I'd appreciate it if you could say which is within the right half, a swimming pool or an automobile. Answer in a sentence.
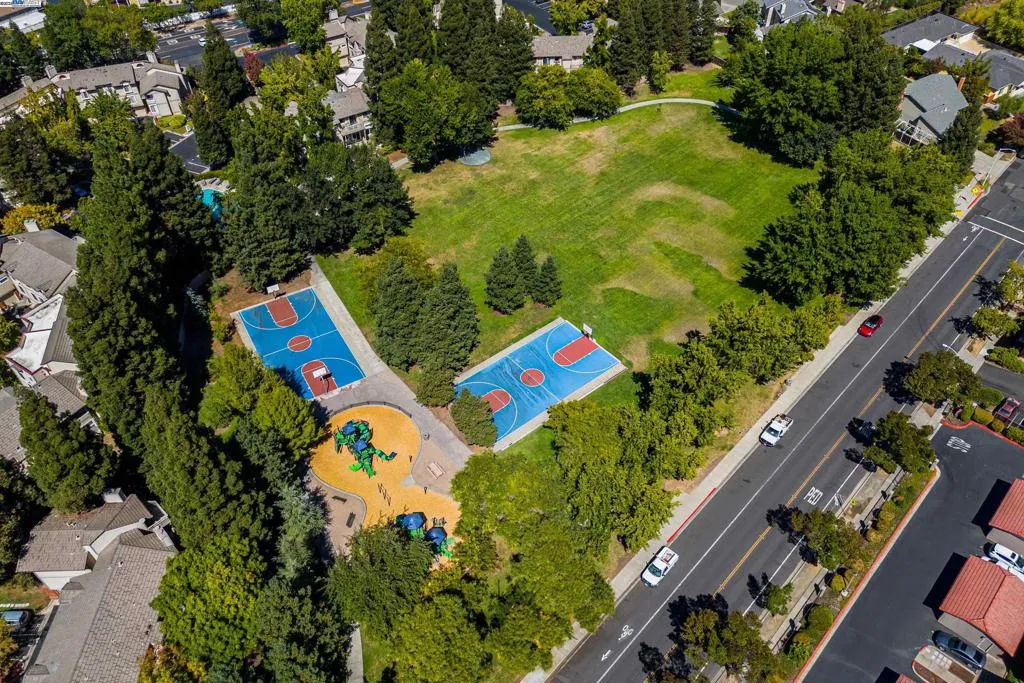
Looking within the right half, you will find an automobile.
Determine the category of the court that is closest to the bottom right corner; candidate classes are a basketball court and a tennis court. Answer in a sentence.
It looks like the court that is closest to the bottom right corner is a basketball court.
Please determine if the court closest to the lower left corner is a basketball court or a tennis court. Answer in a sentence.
It turns out the court closest to the lower left corner is a basketball court.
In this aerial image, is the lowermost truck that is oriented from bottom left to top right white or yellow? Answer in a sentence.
The color of the lowermost truck that is oriented from bottom left to top right is white.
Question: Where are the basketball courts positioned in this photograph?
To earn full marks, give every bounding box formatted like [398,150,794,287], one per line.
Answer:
[441,316,627,447]
[234,285,366,406]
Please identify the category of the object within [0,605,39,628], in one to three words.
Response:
car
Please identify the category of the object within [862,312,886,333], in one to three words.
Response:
car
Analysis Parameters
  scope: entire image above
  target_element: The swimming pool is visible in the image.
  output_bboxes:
[193,176,238,240]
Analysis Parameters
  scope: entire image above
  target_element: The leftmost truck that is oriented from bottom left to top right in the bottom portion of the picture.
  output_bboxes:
[639,543,682,586]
